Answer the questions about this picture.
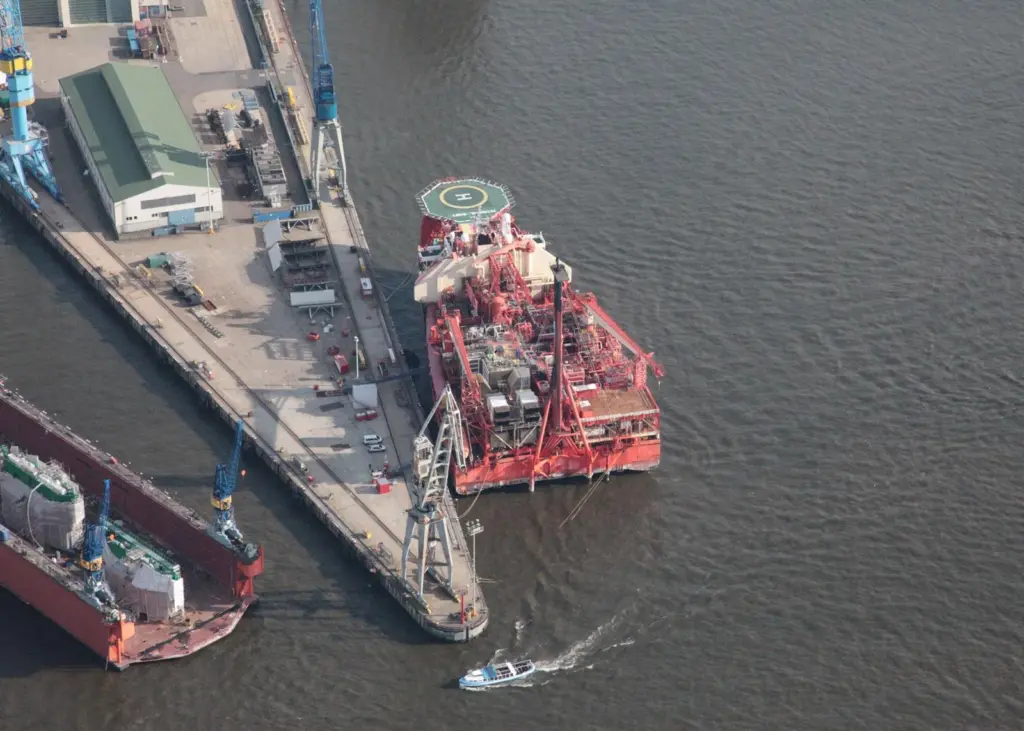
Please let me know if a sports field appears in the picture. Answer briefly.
No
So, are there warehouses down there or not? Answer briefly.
Yes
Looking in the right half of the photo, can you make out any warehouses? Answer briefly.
No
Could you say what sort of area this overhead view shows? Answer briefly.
port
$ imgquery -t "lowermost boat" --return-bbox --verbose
[460,655,538,688]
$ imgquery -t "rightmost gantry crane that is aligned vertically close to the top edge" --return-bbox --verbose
[305,0,350,198]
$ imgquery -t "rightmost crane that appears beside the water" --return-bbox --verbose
[397,385,471,613]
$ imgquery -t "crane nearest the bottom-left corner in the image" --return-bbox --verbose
[67,479,118,617]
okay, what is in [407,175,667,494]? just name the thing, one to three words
ship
